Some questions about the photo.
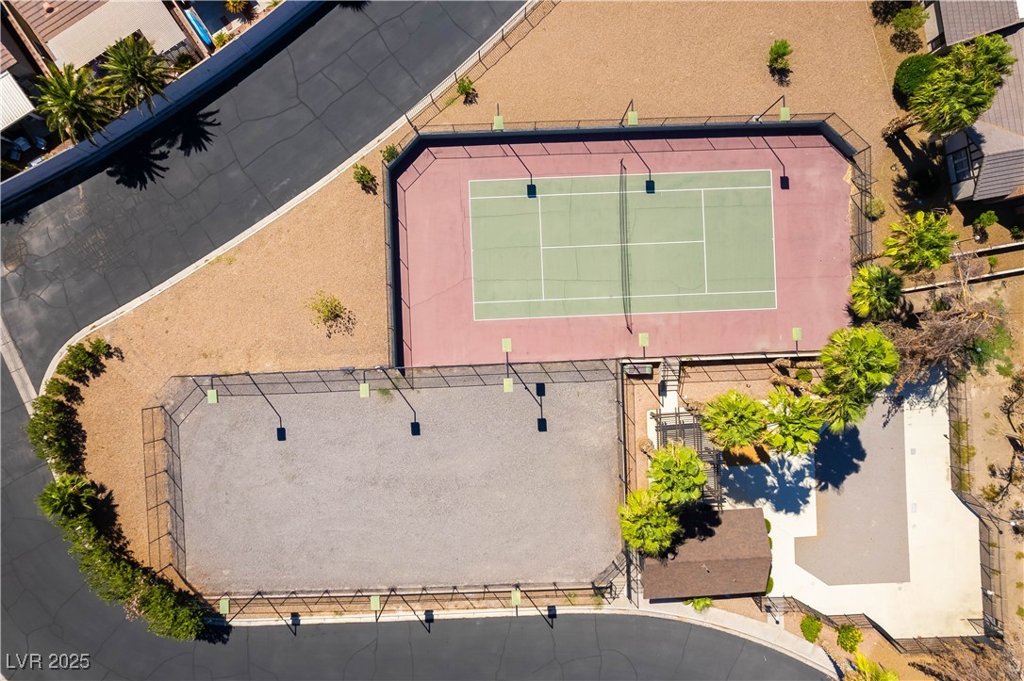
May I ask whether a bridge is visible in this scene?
No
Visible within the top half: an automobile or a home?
home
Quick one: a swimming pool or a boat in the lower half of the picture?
swimming pool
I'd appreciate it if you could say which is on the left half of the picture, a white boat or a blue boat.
blue boat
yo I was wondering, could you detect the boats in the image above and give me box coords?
[187,8,212,45]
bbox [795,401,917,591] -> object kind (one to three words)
swimming pool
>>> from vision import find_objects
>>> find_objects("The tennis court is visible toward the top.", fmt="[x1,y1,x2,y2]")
[392,126,853,369]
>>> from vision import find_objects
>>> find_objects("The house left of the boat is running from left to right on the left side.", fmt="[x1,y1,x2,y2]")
[11,0,199,83]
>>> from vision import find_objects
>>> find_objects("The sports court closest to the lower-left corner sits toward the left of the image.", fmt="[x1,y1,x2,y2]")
[163,363,620,595]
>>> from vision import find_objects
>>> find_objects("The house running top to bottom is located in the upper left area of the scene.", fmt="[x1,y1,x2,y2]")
[0,39,51,144]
